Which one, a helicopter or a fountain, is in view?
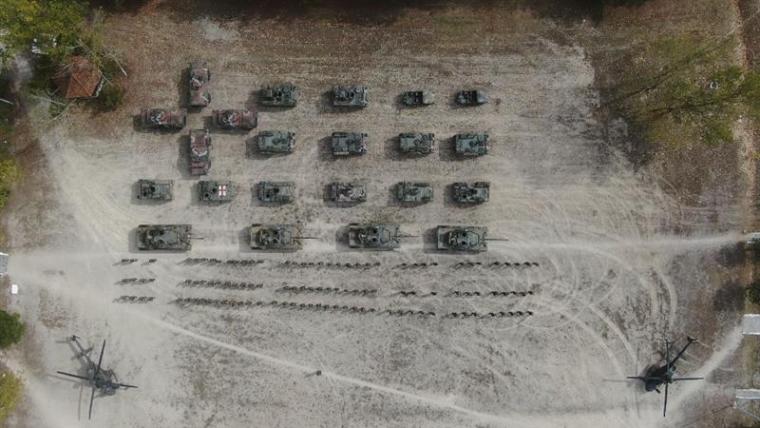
helicopter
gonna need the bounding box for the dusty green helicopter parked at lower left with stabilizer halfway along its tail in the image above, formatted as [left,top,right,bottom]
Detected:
[59,335,137,418]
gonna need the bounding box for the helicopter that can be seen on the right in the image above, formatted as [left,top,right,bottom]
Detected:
[626,335,705,418]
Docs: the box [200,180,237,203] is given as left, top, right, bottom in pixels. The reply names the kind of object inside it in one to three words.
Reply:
vehicle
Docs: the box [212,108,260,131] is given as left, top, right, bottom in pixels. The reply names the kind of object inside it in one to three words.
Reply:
truck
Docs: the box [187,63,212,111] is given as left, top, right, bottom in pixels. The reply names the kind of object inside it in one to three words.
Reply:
truck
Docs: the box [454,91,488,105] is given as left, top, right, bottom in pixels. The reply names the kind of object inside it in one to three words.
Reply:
car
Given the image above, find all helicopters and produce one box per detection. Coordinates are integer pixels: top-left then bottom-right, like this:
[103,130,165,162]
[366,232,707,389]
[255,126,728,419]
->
[59,335,137,418]
[626,335,705,418]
